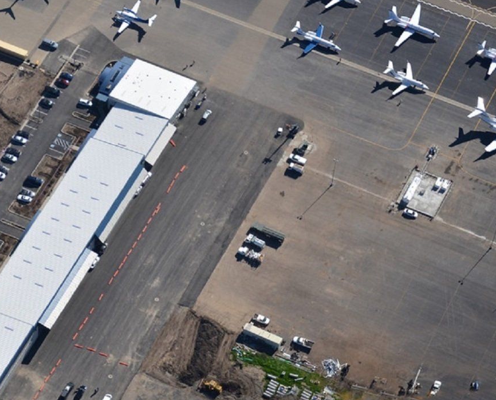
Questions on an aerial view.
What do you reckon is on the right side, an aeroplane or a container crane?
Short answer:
aeroplane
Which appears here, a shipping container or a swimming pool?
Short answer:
shipping container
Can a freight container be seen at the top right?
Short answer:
No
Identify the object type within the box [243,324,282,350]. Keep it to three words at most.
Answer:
shipping container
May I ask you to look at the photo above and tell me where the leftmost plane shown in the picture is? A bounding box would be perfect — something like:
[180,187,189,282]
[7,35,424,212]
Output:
[116,0,159,33]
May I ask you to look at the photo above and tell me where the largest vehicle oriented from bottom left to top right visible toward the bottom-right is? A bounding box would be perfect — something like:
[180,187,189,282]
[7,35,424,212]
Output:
[427,381,443,396]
